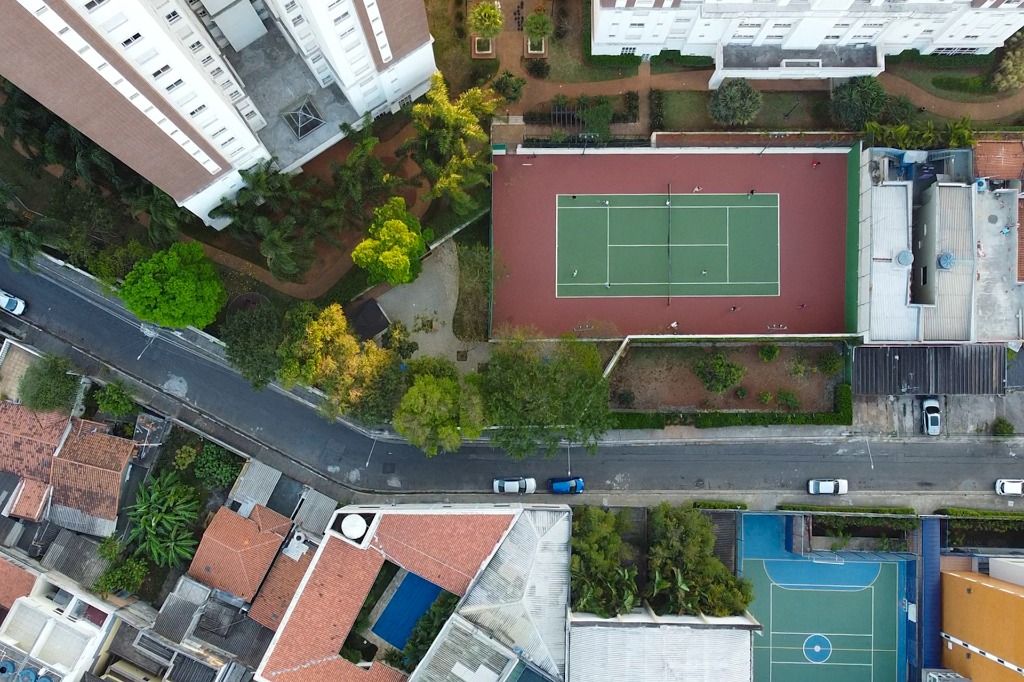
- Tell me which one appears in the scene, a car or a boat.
car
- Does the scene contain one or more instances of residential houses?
Yes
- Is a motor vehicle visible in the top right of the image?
No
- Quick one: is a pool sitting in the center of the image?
No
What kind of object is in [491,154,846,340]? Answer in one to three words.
tennis court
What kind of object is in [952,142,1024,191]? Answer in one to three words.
house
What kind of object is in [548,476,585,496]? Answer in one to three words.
car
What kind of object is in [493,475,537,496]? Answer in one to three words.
car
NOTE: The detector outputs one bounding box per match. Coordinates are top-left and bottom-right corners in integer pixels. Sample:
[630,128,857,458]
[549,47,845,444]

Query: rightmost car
[993,477,1024,497]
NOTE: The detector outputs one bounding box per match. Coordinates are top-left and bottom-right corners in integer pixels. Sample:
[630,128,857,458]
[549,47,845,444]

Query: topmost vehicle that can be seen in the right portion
[921,399,944,436]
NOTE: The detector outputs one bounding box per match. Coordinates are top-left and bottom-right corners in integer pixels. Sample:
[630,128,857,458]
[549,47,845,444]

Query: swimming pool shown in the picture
[366,571,447,653]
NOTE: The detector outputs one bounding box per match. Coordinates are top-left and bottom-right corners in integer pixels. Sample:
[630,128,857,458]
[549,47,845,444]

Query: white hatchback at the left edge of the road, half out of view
[0,288,26,313]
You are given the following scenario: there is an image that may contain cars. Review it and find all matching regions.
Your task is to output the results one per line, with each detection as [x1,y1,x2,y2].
[993,477,1024,497]
[807,477,847,497]
[0,288,26,313]
[921,399,944,436]
[548,476,585,496]
[493,475,537,496]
